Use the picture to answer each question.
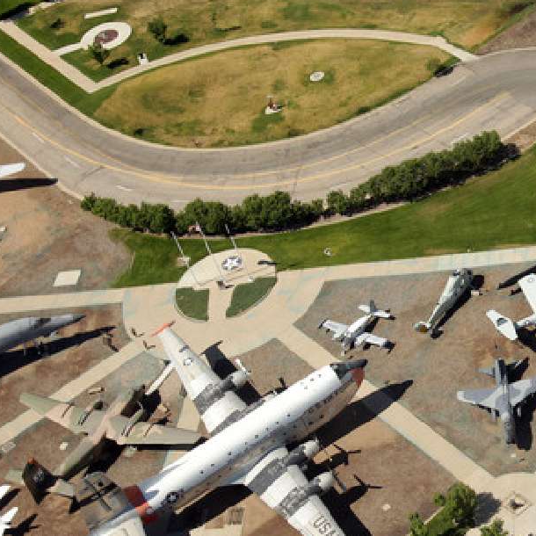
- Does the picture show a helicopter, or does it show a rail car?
helicopter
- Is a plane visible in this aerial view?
Yes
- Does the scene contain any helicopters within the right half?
Yes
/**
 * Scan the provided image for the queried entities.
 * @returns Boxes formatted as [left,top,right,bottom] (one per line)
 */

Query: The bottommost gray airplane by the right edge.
[458,350,536,447]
